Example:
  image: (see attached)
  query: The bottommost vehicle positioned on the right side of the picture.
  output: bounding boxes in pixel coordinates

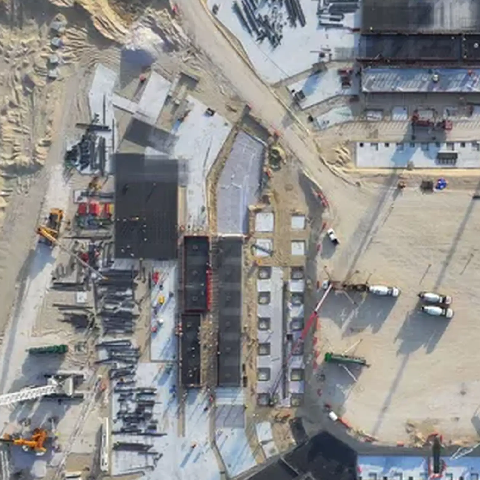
[325,407,340,427]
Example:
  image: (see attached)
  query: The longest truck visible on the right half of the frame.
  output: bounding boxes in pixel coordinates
[274,258,366,398]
